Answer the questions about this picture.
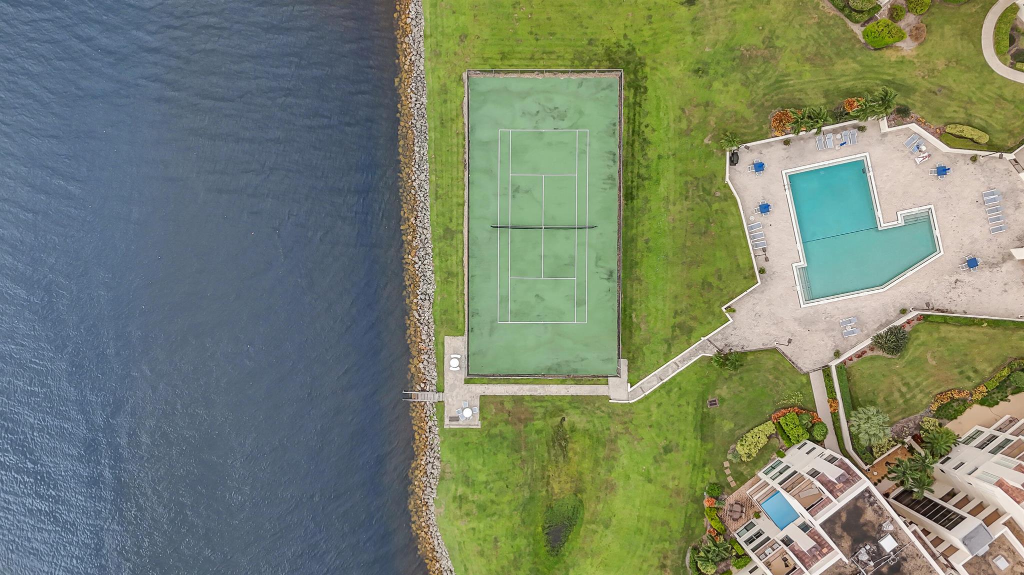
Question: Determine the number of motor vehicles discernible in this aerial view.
0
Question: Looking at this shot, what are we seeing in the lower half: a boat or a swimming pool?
swimming pool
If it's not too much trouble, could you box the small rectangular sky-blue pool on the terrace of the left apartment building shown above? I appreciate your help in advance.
[762,490,797,527]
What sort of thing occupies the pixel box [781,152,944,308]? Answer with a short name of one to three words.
swimming pool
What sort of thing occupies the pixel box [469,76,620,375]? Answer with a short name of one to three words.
tennis court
